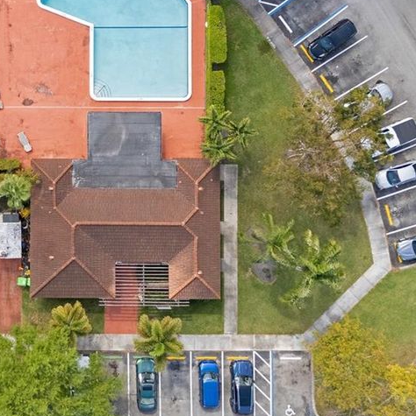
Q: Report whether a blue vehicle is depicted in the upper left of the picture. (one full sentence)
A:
No, the scene shows no blue vehicle in the upper left of the picture.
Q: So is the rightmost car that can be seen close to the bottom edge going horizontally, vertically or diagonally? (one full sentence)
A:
In this picture, the rightmost car that can be seen close to the bottom edge lies vertically.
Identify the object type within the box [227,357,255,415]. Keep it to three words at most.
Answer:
car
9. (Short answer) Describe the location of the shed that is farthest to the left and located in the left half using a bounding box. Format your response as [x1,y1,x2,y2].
[0,213,21,259]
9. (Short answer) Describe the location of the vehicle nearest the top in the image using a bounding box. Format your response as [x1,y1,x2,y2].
[303,18,360,62]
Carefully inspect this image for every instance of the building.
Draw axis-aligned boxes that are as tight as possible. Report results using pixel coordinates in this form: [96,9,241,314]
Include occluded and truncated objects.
[29,110,222,307]
[0,213,21,259]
